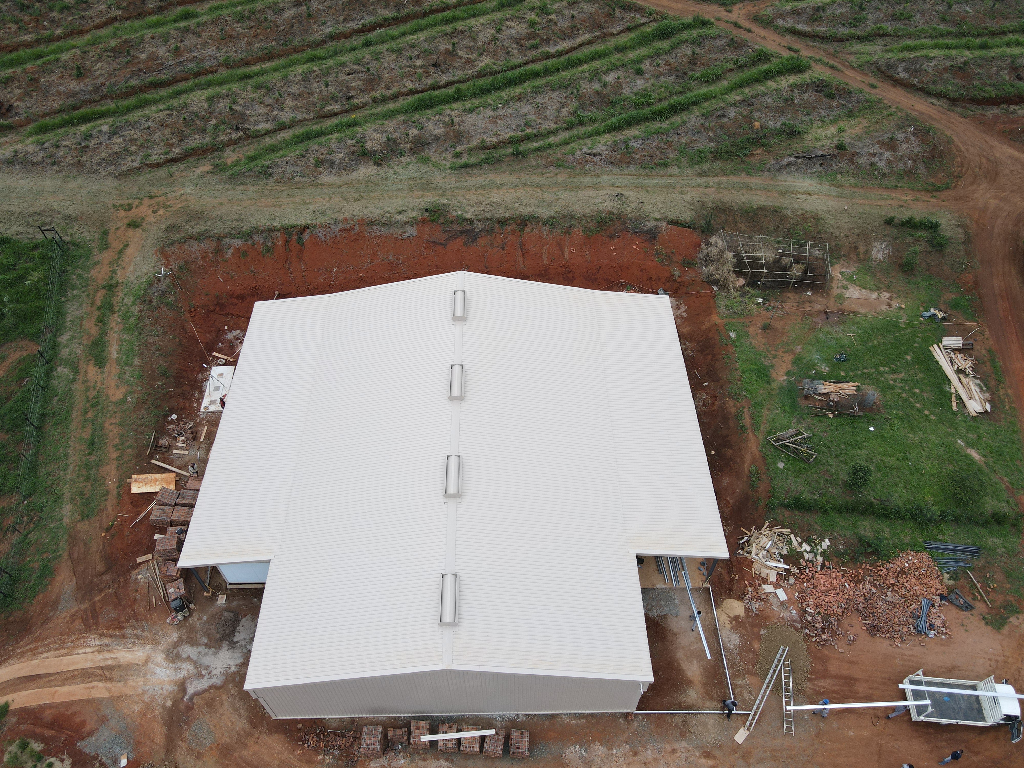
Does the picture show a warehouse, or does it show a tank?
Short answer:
warehouse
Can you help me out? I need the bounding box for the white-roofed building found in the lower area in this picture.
[175,270,729,720]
